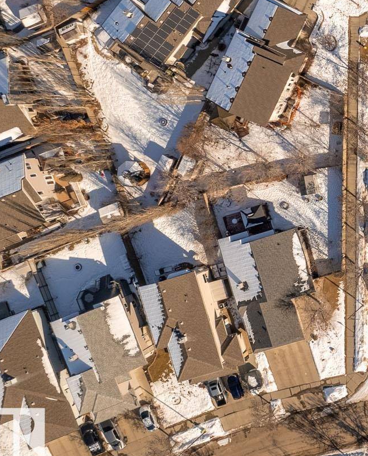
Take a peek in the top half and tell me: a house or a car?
house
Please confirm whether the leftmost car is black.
Yes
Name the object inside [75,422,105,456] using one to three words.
car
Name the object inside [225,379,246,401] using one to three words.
car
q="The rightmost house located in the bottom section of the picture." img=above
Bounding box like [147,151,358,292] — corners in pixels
[222,226,322,350]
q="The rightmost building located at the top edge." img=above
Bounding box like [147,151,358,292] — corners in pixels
[207,0,314,127]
